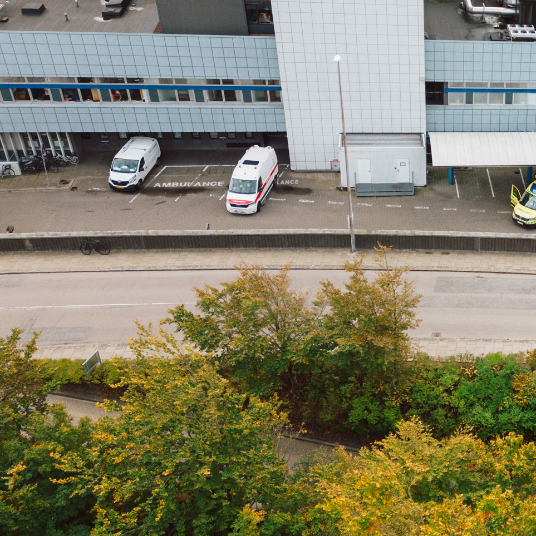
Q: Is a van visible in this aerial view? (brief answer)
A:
Yes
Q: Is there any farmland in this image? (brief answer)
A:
No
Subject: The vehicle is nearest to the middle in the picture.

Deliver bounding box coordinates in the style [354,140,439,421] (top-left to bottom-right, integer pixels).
[227,144,281,215]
